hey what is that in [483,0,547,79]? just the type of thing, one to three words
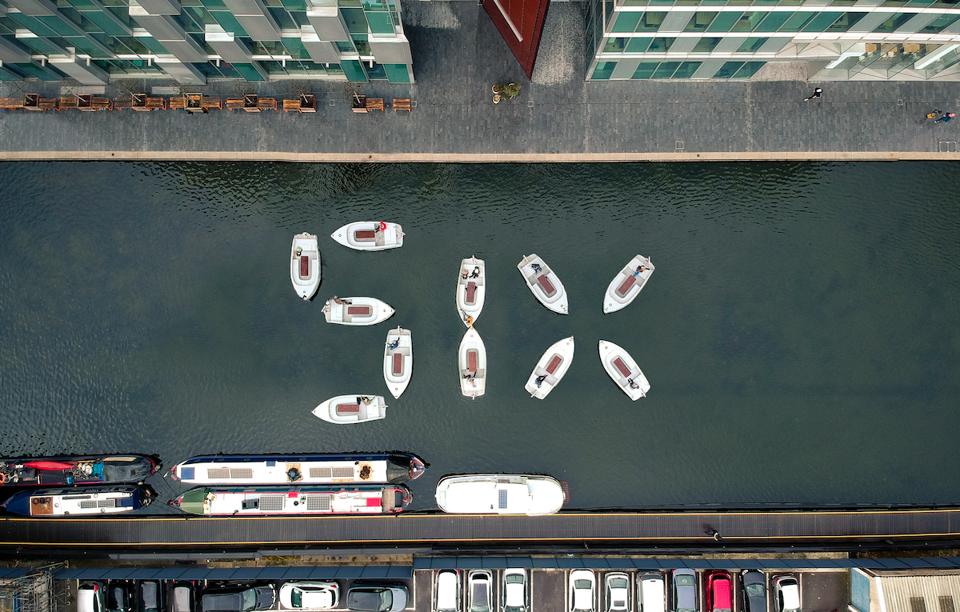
building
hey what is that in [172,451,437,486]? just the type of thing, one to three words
boat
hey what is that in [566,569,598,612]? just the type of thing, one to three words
car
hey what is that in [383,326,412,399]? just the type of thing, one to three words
boat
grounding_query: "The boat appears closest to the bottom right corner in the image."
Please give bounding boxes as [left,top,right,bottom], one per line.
[599,339,651,401]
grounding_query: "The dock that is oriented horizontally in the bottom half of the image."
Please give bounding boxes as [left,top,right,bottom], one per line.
[0,506,960,550]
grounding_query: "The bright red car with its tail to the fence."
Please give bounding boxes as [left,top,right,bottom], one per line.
[704,569,737,612]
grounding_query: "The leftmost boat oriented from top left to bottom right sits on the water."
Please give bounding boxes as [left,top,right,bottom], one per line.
[518,254,569,315]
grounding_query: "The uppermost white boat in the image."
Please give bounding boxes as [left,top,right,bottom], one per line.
[332,221,406,250]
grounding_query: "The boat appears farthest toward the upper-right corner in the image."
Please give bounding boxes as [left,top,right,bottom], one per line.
[603,254,654,314]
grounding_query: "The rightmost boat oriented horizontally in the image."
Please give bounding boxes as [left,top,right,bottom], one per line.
[434,472,569,517]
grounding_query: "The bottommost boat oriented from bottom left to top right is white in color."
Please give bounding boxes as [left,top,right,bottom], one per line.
[526,336,575,399]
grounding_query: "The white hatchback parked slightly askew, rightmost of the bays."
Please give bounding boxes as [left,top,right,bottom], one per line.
[770,571,804,612]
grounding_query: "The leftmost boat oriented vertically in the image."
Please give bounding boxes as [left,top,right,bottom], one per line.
[292,230,321,301]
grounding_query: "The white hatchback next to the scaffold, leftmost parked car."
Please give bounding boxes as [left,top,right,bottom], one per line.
[75,579,107,612]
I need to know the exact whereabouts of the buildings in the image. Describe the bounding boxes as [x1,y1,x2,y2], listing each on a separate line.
[483,0,547,79]
[587,0,960,82]
[837,570,960,612]
[0,0,419,85]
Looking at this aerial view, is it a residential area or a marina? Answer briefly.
marina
